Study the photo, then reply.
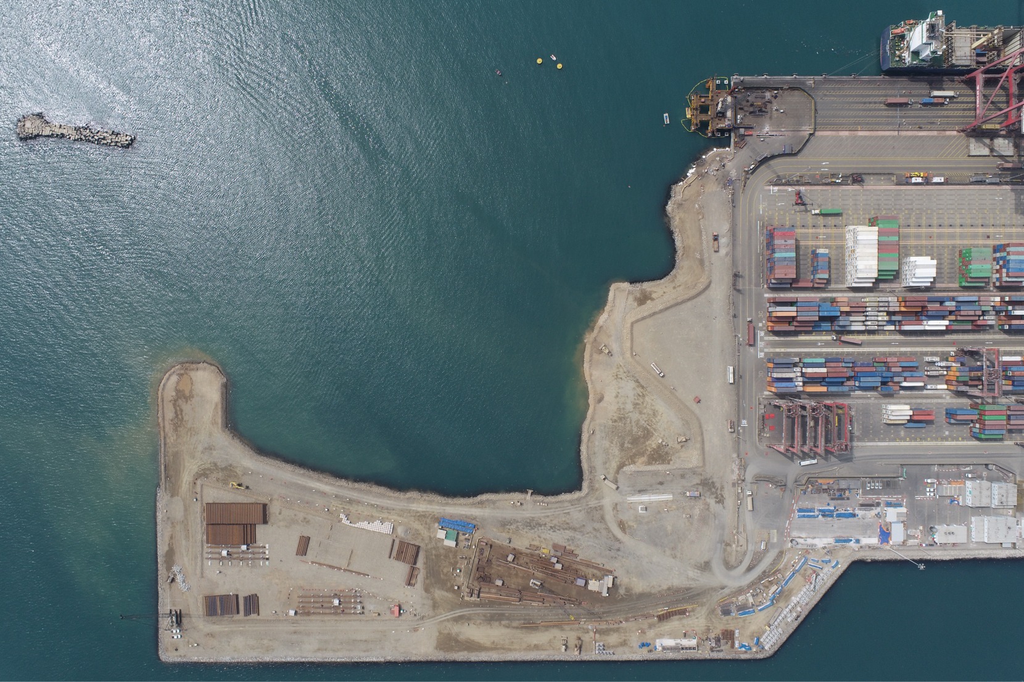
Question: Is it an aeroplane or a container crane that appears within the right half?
container crane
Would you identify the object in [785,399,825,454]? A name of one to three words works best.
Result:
container crane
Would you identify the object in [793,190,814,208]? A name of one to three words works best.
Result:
work vehicle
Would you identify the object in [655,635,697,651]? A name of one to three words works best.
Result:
shed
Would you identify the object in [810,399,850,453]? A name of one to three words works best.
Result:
container crane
